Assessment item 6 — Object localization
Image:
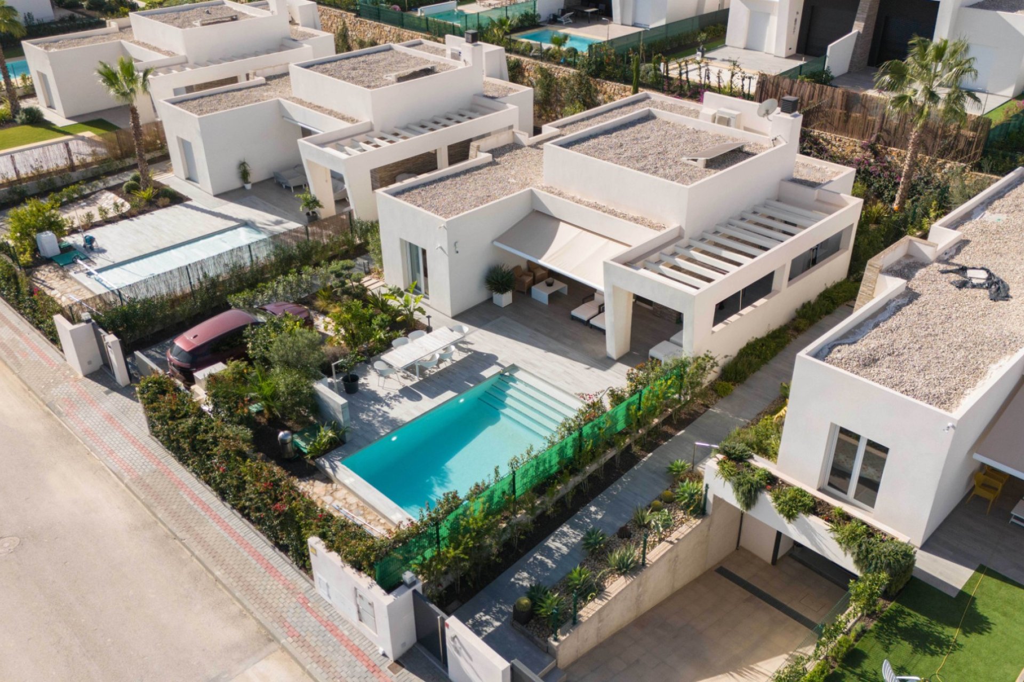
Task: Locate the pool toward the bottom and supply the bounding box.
[341,366,595,517]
